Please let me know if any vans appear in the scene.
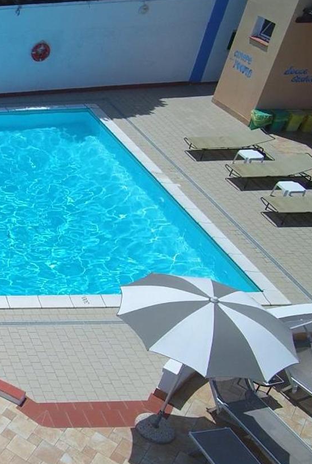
No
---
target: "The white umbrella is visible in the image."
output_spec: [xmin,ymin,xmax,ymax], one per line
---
[115,274,301,446]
